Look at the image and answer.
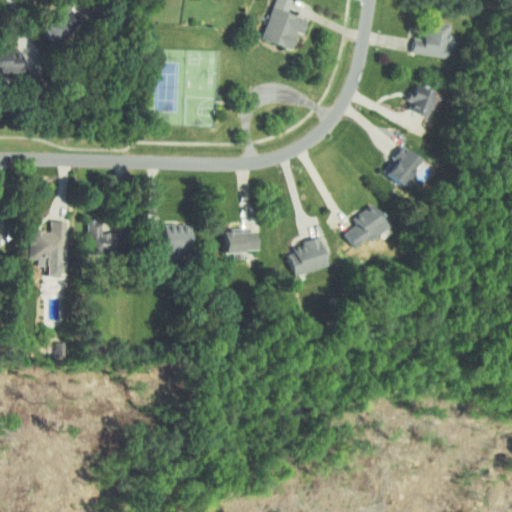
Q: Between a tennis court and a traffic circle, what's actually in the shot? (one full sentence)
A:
Visible in the photo is a tennis court.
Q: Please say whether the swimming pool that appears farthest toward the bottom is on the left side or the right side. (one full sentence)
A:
You can find the swimming pool that appears farthest toward the bottom on the left side of the picture.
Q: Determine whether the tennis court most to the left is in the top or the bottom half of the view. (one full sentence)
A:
You can find the tennis court most to the left in the top half.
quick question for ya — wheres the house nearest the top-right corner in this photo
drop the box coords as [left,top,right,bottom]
[410,22,457,60]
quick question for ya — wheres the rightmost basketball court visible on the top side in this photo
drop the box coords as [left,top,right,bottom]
[184,50,220,128]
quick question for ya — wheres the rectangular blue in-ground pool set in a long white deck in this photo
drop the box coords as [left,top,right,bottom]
[42,276,62,326]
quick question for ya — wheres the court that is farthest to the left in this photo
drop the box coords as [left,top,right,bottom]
[146,50,184,127]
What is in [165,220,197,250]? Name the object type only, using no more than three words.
house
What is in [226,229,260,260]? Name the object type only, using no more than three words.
house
